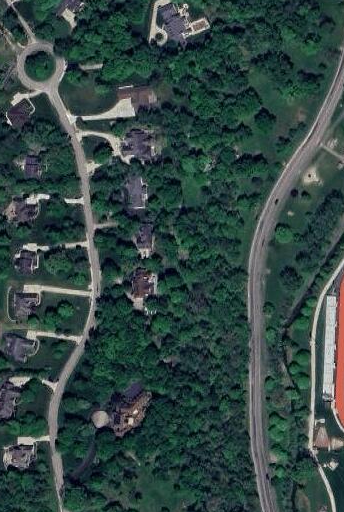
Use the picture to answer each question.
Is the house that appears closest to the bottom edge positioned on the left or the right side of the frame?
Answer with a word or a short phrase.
left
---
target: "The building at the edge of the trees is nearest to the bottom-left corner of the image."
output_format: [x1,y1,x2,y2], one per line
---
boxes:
[8,448,33,468]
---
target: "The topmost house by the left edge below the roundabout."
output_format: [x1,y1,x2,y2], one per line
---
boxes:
[7,101,32,126]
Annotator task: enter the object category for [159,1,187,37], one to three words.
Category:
house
